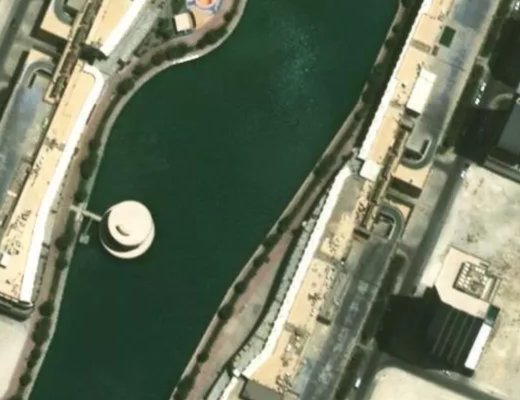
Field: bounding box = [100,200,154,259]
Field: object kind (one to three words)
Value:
building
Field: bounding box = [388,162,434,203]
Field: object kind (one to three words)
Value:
building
